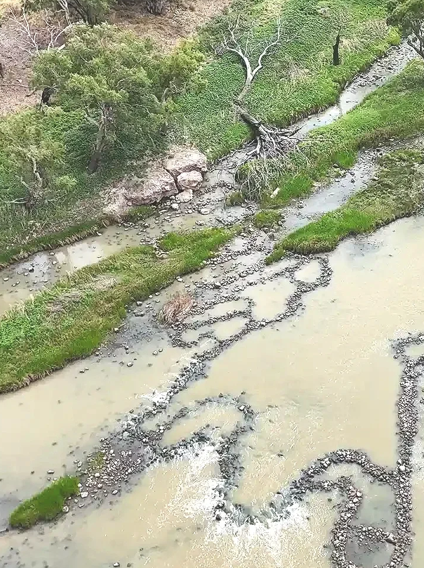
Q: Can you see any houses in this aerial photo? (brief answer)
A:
No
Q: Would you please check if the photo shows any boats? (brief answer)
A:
No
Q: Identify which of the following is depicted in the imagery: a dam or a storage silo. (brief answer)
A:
dam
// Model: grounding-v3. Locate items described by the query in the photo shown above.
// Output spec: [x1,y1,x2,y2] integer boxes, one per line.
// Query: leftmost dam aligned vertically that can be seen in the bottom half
[213,424,248,498]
